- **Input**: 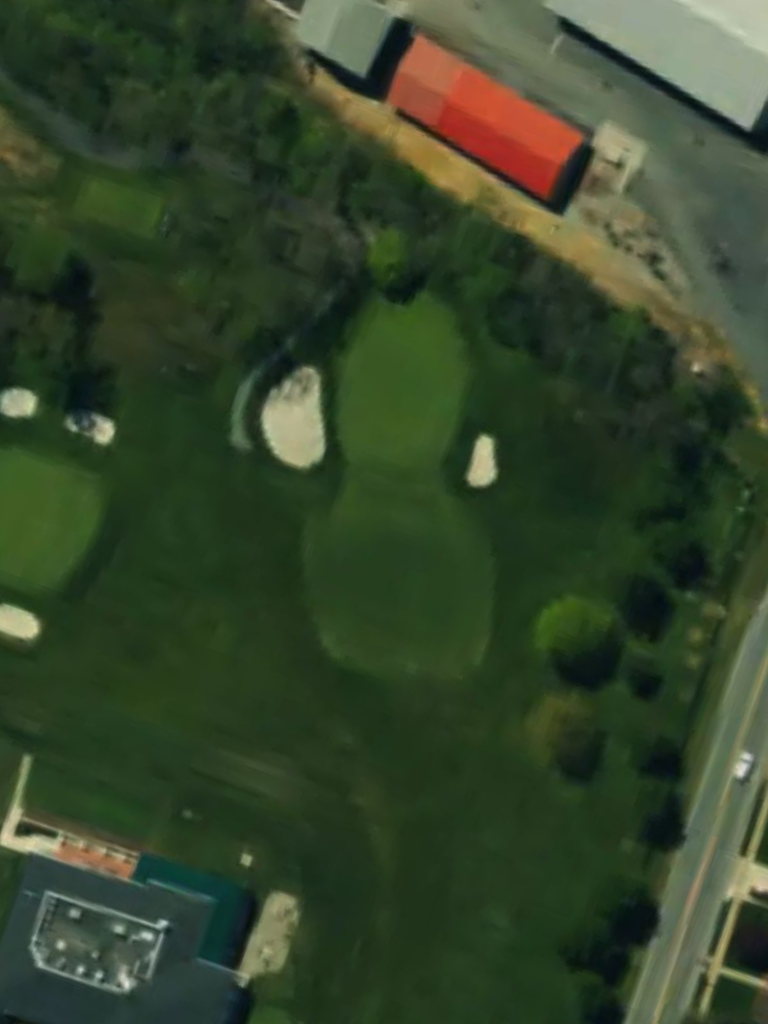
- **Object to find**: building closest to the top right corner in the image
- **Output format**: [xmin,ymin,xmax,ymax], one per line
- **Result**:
[544,0,768,132]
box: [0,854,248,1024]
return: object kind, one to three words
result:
building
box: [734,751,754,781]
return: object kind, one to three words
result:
car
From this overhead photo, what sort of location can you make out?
golf course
